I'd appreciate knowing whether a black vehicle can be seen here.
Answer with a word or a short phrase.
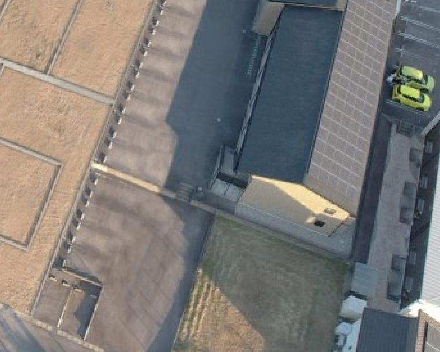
No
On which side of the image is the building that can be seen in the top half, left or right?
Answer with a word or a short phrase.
right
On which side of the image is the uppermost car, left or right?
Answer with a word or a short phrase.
right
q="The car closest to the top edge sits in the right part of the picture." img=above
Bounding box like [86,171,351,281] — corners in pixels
[393,66,436,94]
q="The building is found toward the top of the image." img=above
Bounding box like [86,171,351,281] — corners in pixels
[211,0,410,229]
